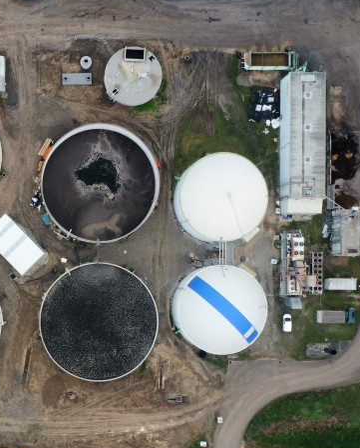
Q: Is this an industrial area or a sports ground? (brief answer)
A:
industrial area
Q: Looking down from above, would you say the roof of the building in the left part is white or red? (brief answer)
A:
white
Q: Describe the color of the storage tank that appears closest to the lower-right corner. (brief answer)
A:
white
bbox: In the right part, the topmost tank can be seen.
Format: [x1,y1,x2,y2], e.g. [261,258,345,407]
[174,152,269,242]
